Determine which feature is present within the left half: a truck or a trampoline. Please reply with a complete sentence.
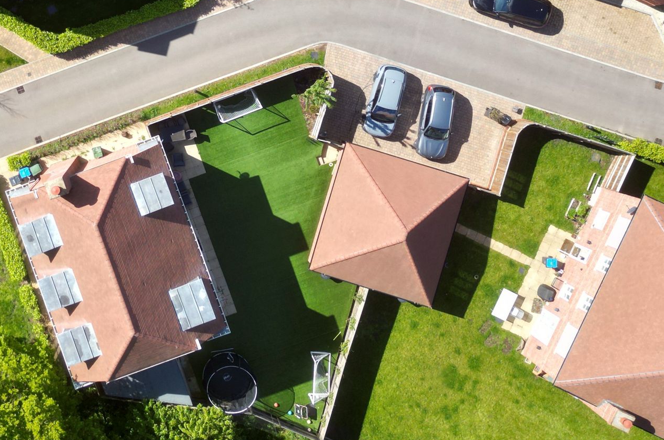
You can see a trampoline within the left half.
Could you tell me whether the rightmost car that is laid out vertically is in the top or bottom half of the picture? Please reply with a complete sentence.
The rightmost car that is laid out vertically is in the top half of the image.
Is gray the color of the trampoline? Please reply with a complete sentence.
No, from above the trampoline looks black.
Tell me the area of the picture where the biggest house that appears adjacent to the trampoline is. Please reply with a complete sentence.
The biggest house that appears adjacent to the trampoline sits in the left section of the image.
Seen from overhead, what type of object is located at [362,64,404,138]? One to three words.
car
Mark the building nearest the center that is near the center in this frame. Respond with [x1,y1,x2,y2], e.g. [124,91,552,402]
[306,142,470,307]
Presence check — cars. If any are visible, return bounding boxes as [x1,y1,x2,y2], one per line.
[466,0,551,26]
[413,83,454,160]
[362,64,404,138]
